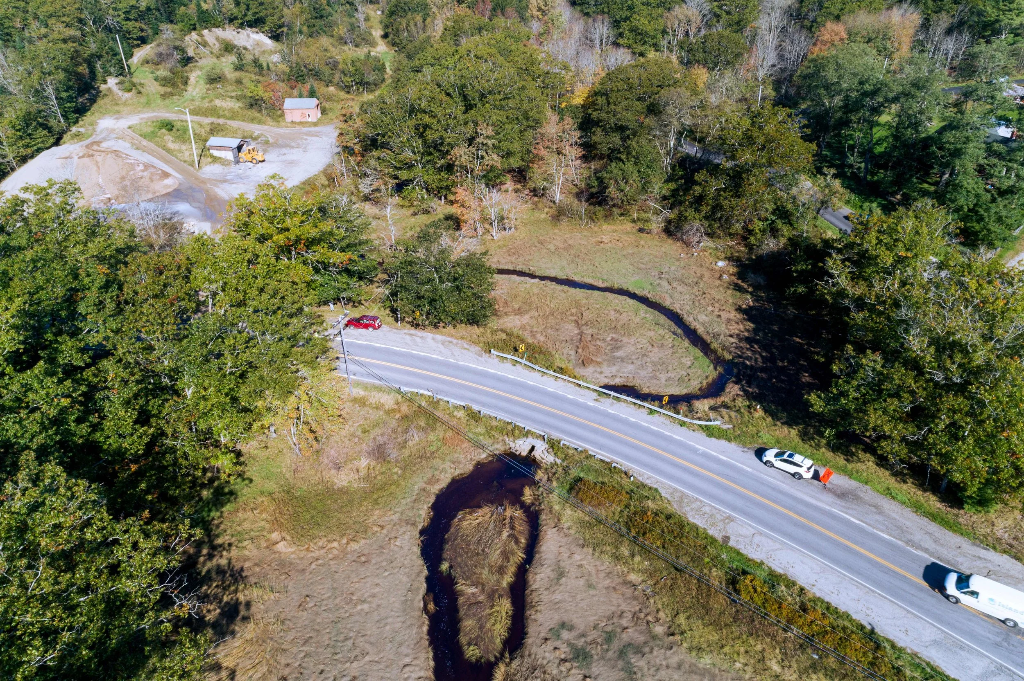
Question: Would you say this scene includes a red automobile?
Yes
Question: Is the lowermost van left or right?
right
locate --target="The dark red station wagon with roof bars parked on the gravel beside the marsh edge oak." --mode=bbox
[344,314,383,332]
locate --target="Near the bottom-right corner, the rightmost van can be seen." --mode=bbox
[943,572,1024,629]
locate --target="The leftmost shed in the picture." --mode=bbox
[204,131,261,163]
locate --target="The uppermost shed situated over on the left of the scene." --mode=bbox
[283,97,326,120]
